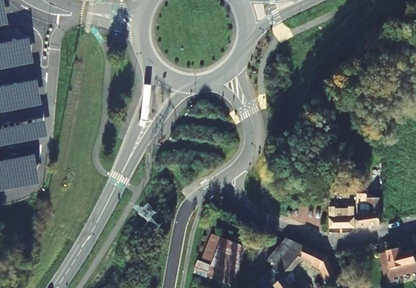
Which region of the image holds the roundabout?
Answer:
top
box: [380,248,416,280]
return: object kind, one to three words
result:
house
